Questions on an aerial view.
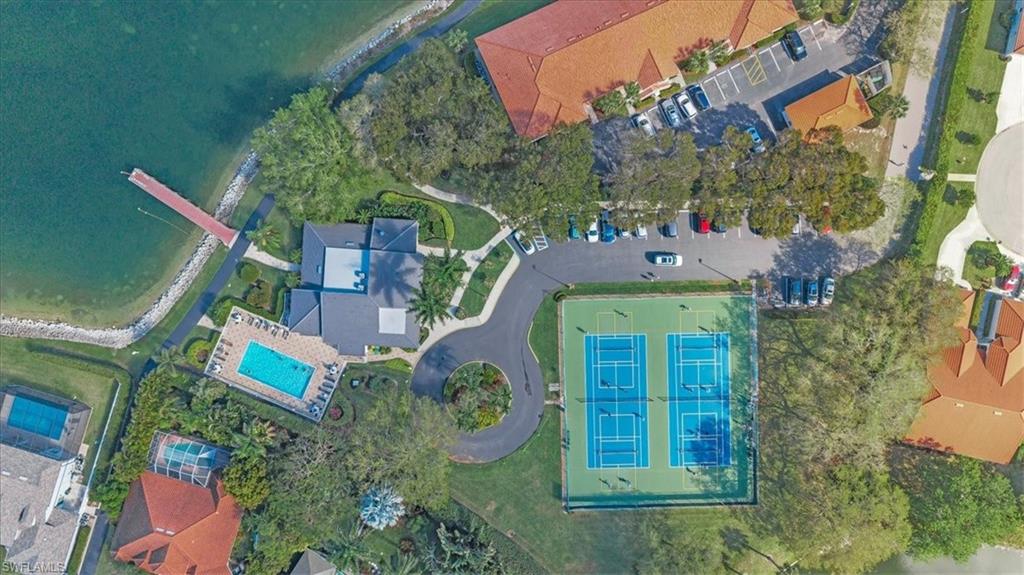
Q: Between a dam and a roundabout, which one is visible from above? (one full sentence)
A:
There is a roundabout in the scene.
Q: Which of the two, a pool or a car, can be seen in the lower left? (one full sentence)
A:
It is a pool that can be seen in the lower left.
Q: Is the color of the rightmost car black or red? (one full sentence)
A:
From above, the rightmost car appears red.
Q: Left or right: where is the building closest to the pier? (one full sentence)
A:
The building closest to the pier is on the left side of the image.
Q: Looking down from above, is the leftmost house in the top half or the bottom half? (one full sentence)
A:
The bottom half of the photo is where the leftmost house is.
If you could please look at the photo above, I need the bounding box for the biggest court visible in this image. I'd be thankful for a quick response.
[563,296,753,506]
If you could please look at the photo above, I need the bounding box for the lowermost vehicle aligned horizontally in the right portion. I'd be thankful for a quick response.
[653,253,681,266]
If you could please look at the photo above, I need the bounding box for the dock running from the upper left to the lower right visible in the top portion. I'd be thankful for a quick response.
[120,168,238,247]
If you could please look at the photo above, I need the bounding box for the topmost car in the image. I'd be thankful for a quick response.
[784,30,805,60]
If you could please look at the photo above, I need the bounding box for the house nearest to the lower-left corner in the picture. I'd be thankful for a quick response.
[0,441,86,575]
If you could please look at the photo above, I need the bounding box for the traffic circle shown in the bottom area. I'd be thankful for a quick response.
[443,361,512,430]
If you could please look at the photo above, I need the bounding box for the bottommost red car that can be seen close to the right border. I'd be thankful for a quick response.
[1000,266,1020,293]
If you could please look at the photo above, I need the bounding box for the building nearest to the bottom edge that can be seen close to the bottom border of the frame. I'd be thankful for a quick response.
[288,544,339,575]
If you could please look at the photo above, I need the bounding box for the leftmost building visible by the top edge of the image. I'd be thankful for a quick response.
[474,0,799,139]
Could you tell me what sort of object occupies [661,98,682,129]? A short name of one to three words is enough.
car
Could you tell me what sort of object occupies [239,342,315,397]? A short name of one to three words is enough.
swimming pool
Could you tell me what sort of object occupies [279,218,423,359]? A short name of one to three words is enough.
building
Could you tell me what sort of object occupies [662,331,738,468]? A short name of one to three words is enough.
tennis court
